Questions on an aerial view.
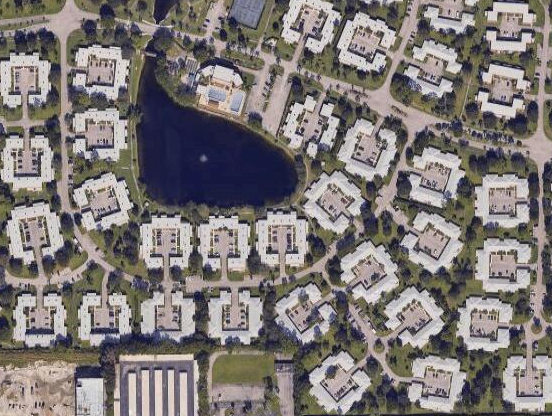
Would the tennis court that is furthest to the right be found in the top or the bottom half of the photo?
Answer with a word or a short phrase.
top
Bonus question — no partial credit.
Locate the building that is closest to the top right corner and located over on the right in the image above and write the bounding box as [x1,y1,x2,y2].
[487,0,536,53]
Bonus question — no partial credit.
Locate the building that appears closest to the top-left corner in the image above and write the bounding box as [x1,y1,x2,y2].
[0,54,51,107]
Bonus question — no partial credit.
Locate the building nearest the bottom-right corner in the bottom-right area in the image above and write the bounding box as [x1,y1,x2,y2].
[503,357,552,411]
